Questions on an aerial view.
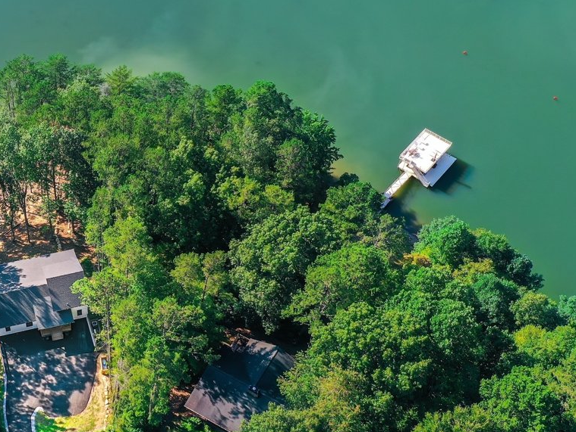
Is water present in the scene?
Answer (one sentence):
Yes, there is water in the image.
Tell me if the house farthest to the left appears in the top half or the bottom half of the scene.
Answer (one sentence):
You can find the house farthest to the left in the bottom half.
